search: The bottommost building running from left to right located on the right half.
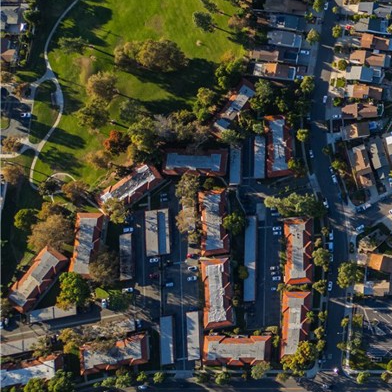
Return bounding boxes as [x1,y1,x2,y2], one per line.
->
[202,335,273,365]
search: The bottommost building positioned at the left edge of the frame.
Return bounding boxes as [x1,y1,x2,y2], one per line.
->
[0,350,70,391]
